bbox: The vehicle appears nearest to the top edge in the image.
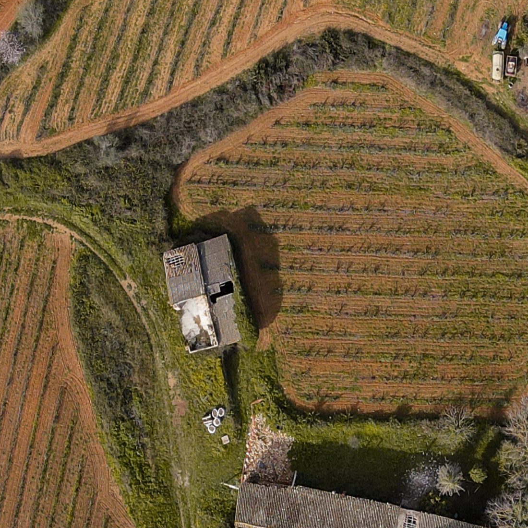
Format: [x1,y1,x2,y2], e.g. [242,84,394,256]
[491,17,510,44]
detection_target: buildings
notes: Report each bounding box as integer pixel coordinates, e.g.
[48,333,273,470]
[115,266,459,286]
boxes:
[162,234,246,355]
[221,470,480,528]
